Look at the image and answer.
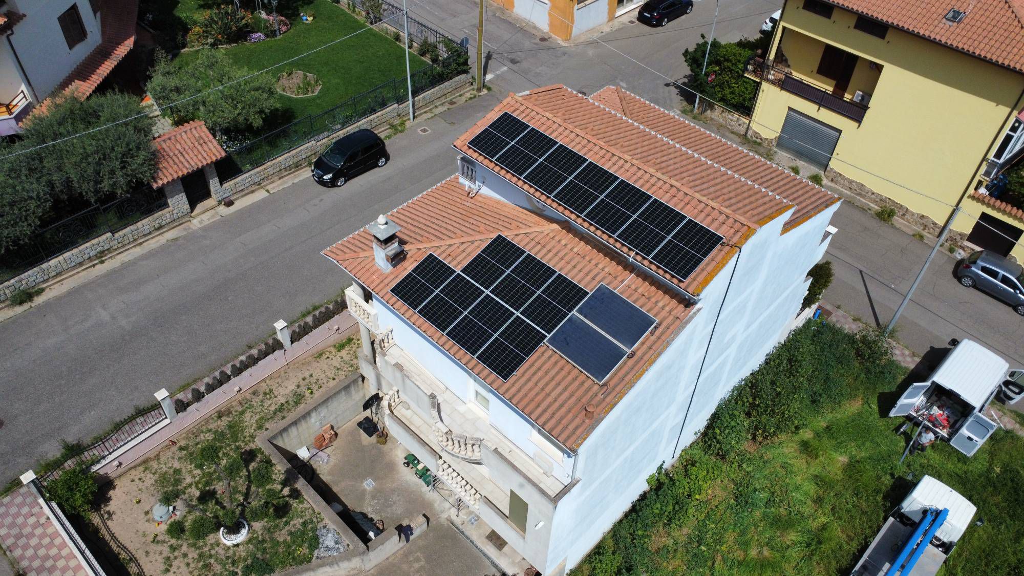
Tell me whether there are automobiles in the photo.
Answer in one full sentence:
Yes, the picture does show an automobile.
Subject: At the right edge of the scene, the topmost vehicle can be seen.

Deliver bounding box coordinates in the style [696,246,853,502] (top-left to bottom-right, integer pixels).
[958,246,1024,316]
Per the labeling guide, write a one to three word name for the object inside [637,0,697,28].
car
